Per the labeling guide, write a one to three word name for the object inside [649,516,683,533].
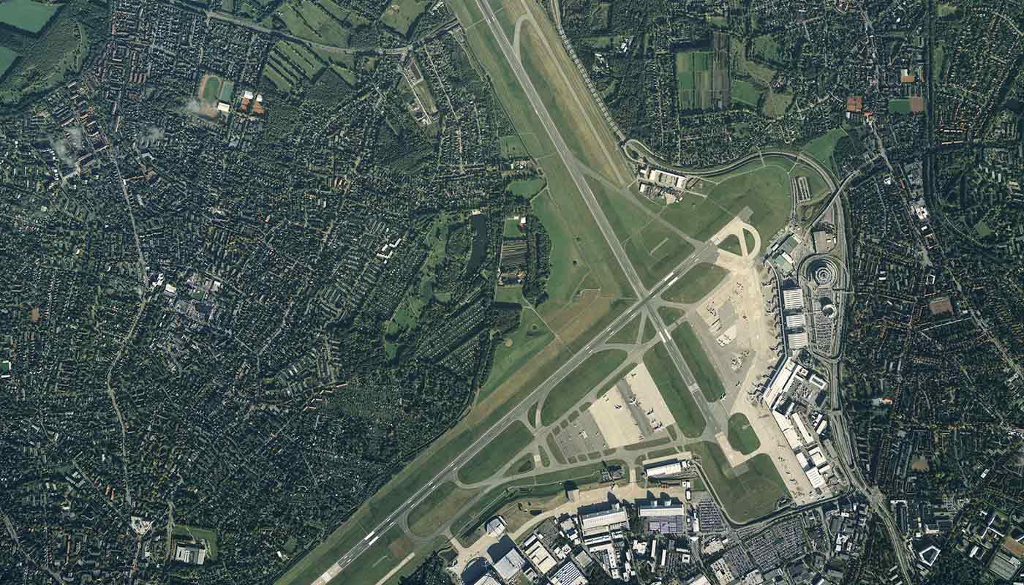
hangar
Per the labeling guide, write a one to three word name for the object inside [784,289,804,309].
building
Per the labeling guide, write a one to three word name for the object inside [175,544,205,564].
building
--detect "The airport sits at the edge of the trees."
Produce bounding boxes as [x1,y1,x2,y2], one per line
[273,0,852,585]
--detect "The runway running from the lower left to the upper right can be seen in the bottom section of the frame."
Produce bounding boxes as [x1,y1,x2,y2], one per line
[310,202,755,585]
